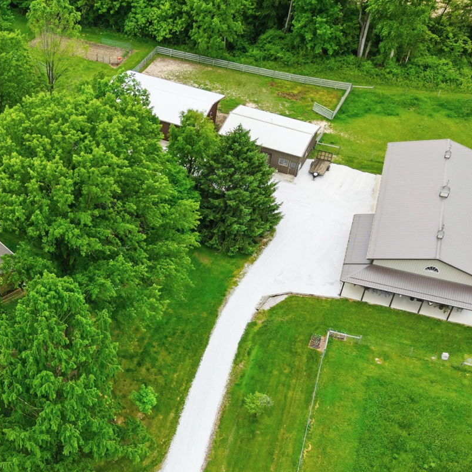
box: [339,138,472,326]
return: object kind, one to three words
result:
barn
